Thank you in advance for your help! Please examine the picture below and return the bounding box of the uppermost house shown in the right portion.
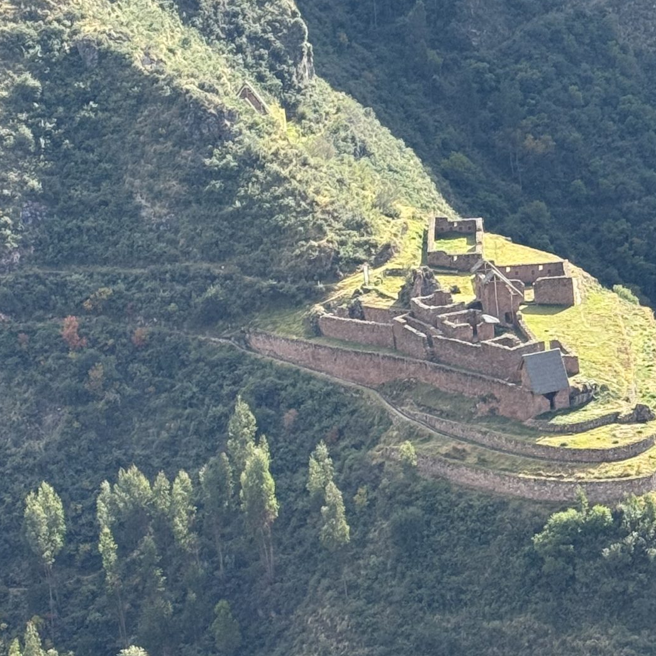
[426,215,485,271]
